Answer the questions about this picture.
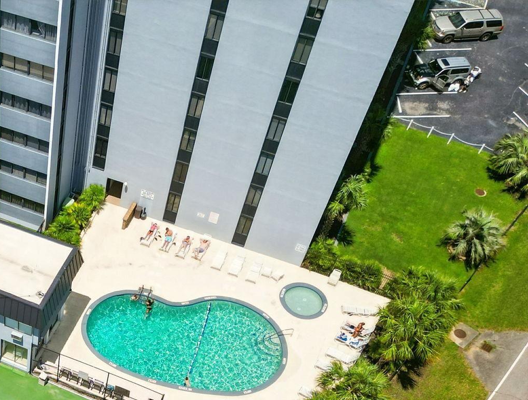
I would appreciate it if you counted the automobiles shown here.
2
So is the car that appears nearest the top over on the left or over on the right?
right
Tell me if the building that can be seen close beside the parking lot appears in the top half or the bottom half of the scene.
top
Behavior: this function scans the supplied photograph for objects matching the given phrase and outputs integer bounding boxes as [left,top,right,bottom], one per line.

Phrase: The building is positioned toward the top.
[0,0,418,267]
